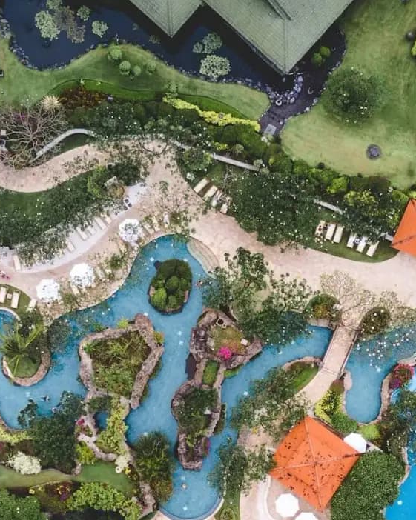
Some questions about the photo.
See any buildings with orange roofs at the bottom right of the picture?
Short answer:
Yes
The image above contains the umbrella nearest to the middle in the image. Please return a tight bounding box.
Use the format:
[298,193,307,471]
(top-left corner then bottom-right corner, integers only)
[119,220,140,241]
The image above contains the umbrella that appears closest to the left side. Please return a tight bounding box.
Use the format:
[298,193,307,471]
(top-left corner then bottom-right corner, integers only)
[37,279,59,302]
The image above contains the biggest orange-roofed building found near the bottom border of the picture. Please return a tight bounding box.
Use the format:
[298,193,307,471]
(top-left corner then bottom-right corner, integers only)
[269,417,362,512]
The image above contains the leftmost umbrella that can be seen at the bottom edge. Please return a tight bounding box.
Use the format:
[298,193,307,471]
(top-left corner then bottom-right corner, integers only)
[276,495,299,517]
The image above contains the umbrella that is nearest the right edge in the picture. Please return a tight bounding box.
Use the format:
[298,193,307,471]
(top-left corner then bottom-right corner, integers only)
[345,432,366,452]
